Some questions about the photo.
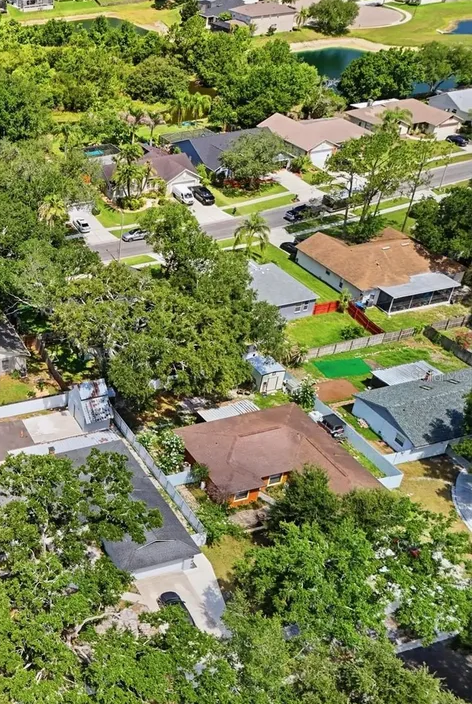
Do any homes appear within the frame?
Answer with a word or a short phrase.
Yes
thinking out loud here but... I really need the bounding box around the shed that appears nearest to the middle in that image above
[244,352,285,392]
